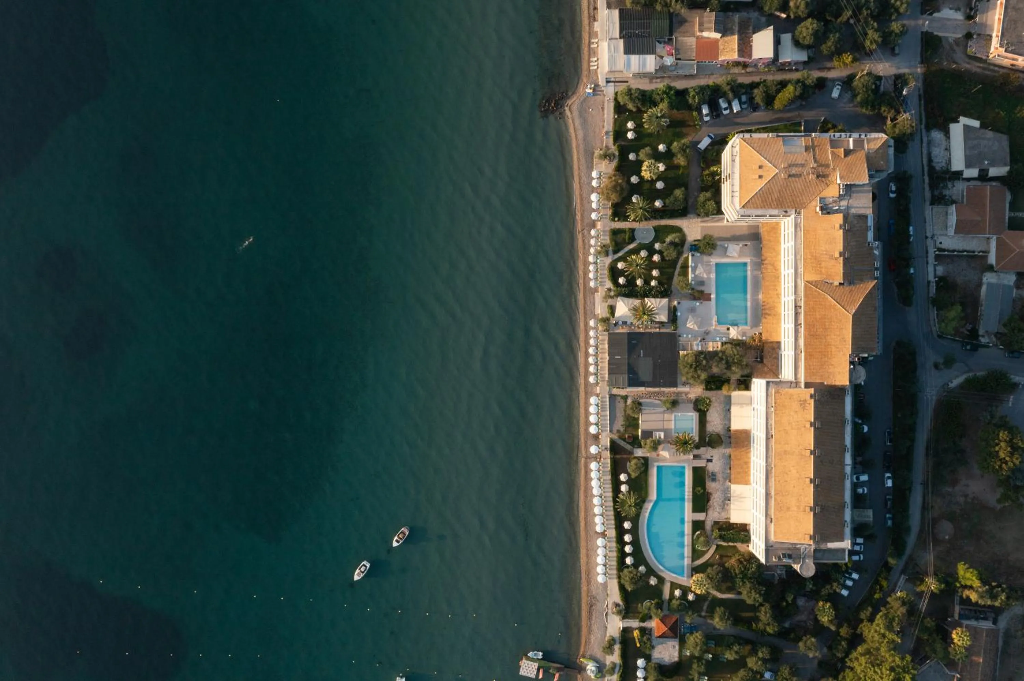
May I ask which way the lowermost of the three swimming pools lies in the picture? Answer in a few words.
from top to bottom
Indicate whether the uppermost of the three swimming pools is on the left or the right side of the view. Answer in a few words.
right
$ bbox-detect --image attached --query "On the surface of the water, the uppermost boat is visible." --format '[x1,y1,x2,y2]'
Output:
[394,527,410,547]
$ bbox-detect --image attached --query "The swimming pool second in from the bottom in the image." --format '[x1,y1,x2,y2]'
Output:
[640,404,698,449]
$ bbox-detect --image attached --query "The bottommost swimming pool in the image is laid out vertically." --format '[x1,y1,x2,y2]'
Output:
[639,456,692,587]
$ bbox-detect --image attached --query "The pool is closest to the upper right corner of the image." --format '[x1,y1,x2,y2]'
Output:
[678,243,760,342]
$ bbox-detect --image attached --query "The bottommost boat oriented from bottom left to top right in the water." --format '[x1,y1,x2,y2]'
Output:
[355,560,371,580]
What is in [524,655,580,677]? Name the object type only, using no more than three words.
pier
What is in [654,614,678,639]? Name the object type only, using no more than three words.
gazebo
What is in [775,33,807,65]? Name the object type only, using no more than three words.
house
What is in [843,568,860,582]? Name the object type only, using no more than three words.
car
